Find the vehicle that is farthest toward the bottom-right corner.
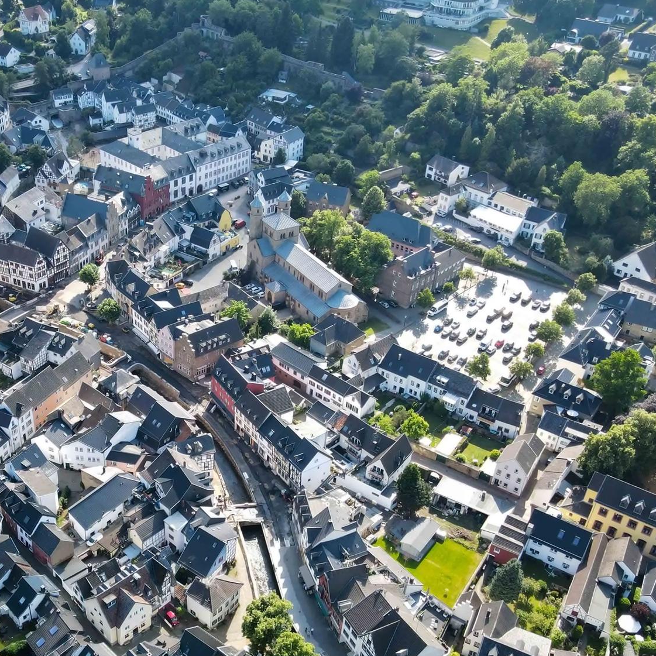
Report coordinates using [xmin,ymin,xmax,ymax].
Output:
[445,622,461,646]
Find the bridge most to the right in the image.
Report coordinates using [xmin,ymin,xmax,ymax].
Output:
[230,498,264,526]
